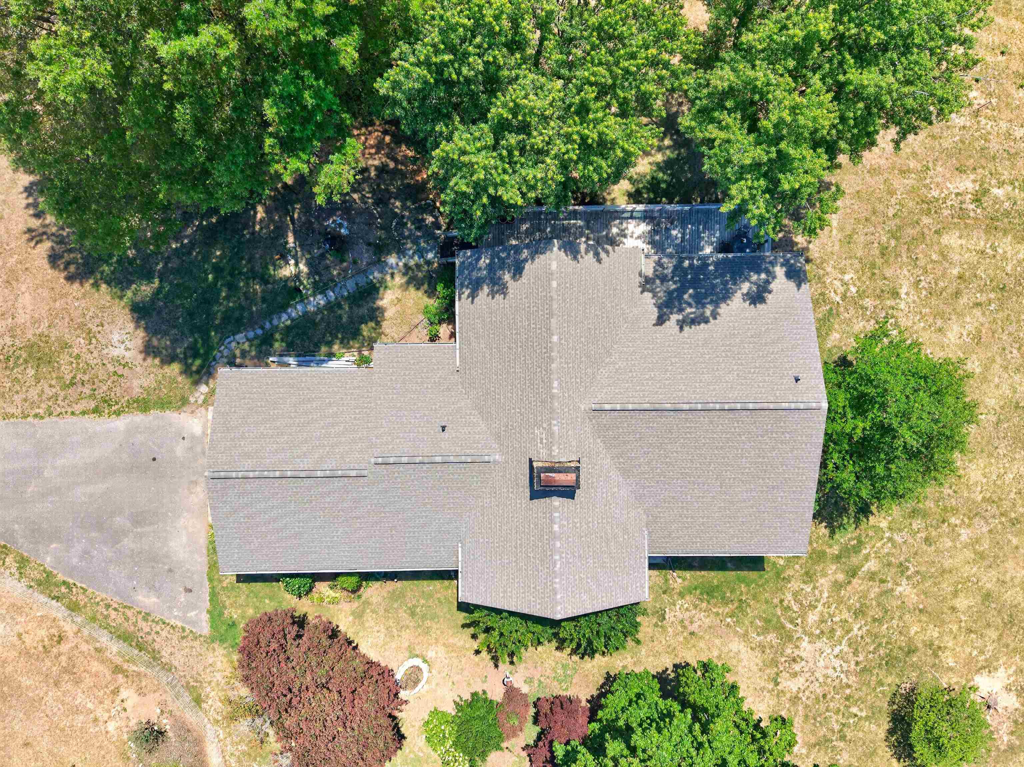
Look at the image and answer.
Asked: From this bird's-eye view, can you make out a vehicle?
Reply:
No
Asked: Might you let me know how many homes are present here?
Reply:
1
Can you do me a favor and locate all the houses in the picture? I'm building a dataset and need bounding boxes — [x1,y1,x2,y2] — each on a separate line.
[206,238,829,619]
